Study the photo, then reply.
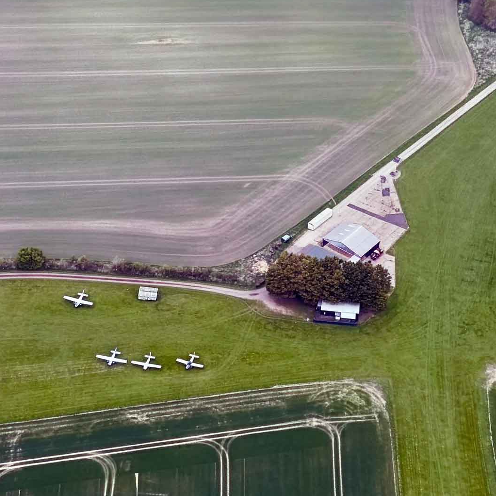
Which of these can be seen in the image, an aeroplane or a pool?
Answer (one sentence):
Visible in the photo is an aeroplane.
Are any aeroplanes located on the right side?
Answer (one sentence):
No, no aeroplane is visible on the right side.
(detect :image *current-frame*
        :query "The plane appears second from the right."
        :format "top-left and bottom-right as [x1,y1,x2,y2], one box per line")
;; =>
[131,353,161,372]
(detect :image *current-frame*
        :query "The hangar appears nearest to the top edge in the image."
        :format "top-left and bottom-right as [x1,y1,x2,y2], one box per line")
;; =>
[322,222,380,262]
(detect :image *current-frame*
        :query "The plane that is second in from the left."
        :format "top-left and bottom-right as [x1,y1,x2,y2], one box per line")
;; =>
[96,348,128,367]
